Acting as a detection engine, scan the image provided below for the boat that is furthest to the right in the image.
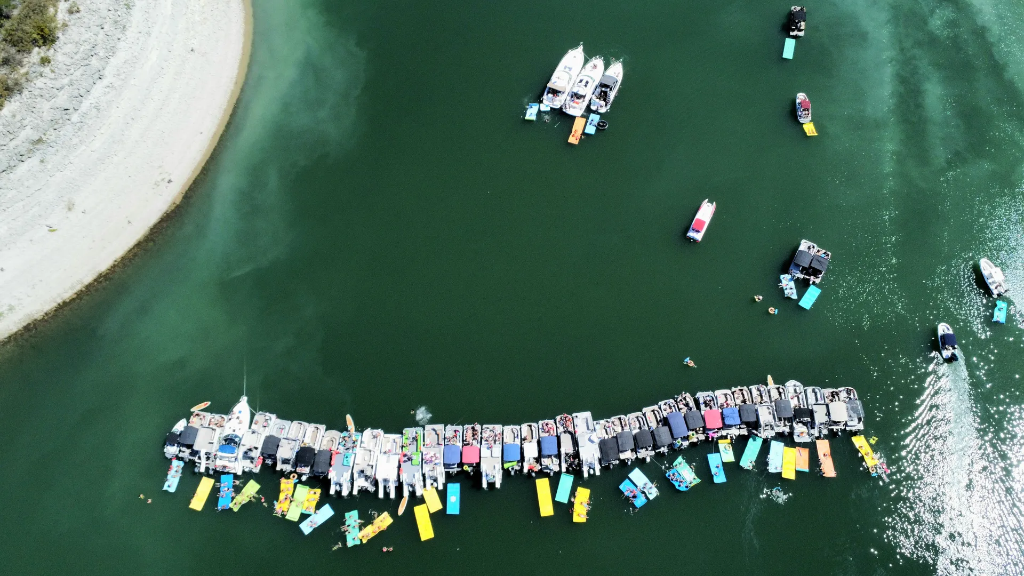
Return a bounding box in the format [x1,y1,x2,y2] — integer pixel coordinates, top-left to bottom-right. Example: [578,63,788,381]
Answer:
[979,258,1006,301]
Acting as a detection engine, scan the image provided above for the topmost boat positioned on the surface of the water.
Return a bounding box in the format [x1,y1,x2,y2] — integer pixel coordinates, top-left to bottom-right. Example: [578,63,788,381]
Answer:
[789,5,808,38]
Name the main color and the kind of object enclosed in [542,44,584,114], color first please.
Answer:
white boat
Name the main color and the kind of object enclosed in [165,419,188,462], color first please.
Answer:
white boat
